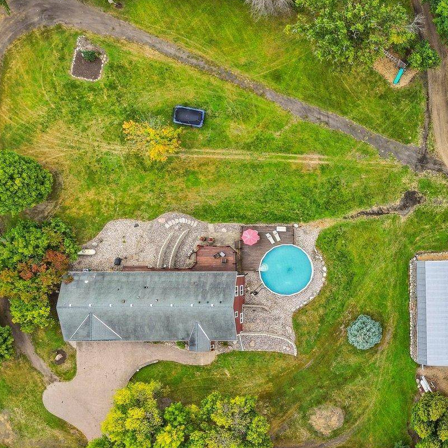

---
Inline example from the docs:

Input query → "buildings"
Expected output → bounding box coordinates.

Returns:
[53,272,245,352]
[415,258,448,366]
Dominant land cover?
grass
